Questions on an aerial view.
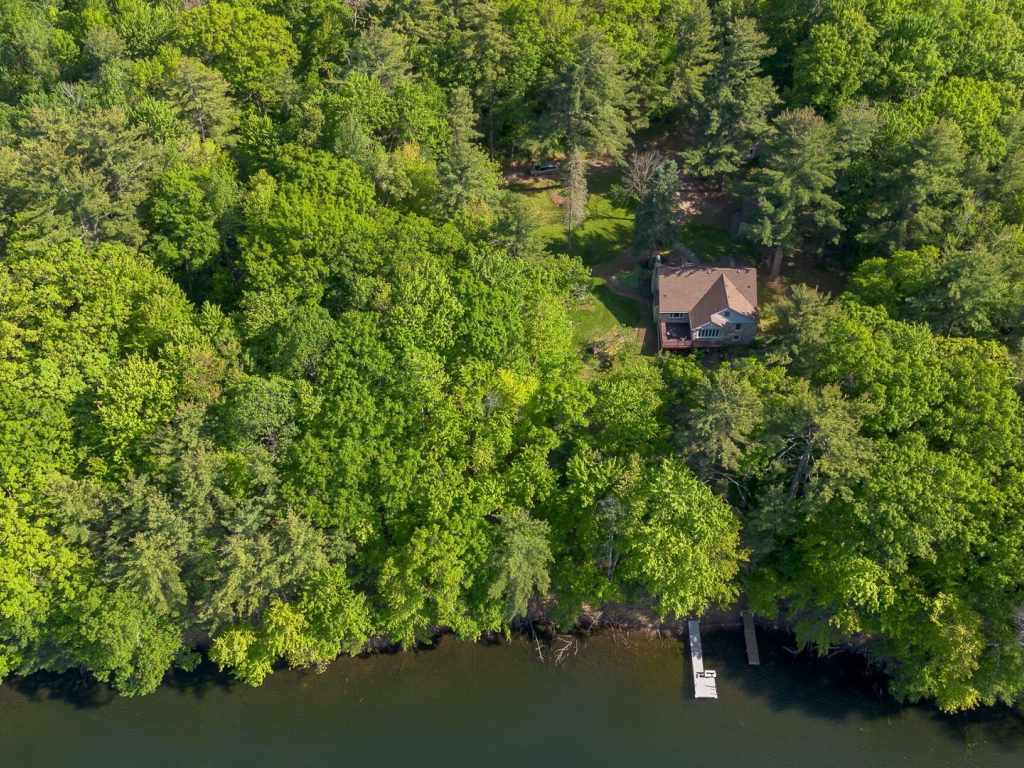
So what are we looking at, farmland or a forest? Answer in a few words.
forest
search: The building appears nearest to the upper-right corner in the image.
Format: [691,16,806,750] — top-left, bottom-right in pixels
[650,262,758,361]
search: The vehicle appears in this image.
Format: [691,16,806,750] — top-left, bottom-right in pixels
[525,165,558,180]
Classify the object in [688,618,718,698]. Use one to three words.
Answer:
pier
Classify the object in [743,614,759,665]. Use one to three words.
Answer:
pier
